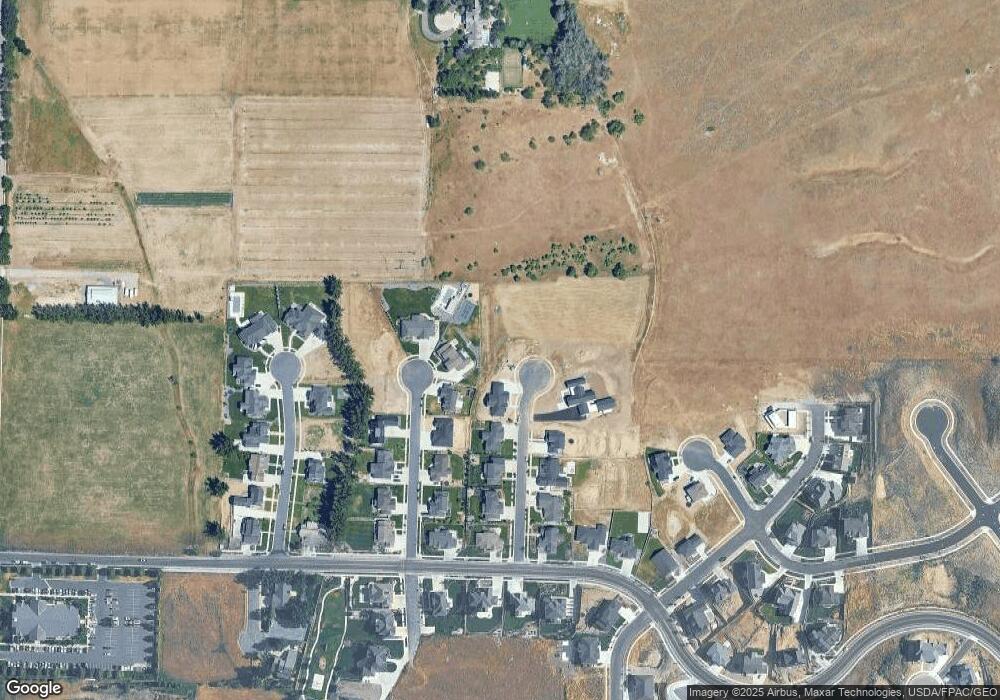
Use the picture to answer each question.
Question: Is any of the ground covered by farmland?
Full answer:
Yes, there's farmland in this view.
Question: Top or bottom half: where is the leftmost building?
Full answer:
The leftmost building is in the bottom half of the image.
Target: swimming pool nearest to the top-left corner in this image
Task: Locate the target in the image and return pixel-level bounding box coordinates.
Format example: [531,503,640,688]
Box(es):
[229,292,245,317]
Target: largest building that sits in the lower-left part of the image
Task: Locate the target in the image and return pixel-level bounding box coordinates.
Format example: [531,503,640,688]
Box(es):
[13,599,80,643]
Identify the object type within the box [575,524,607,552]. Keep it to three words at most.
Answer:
house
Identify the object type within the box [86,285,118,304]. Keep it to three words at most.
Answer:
barn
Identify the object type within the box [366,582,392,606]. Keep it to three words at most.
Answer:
house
